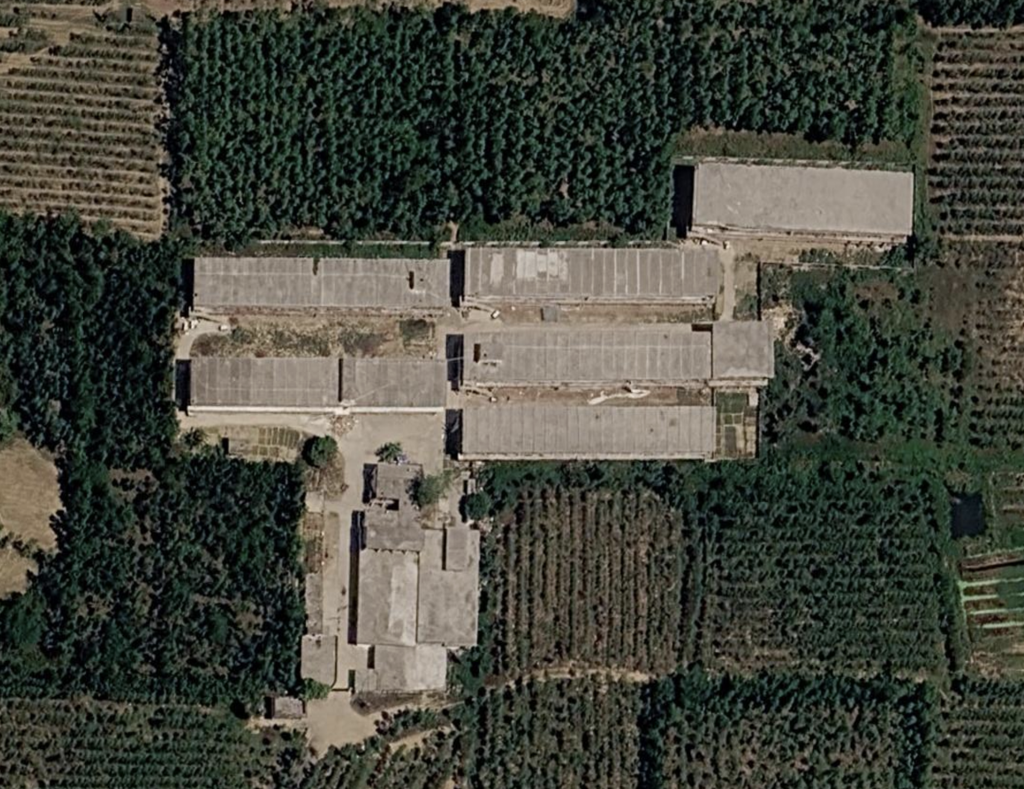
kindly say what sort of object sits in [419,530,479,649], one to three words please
building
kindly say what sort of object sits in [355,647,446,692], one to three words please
house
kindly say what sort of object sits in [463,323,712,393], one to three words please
shed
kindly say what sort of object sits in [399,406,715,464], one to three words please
shed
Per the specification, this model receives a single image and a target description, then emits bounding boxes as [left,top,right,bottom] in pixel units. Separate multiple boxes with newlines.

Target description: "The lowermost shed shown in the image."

[274,699,304,722]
